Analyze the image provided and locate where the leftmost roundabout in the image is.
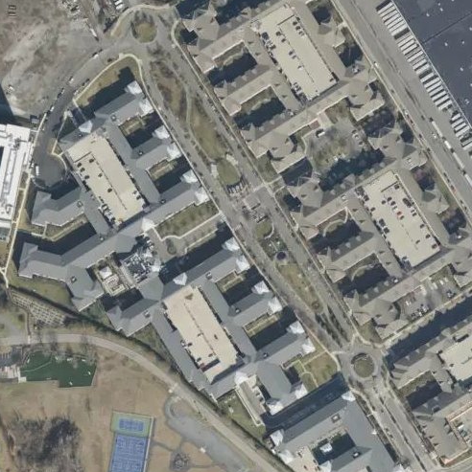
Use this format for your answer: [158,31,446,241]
[124,6,166,52]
